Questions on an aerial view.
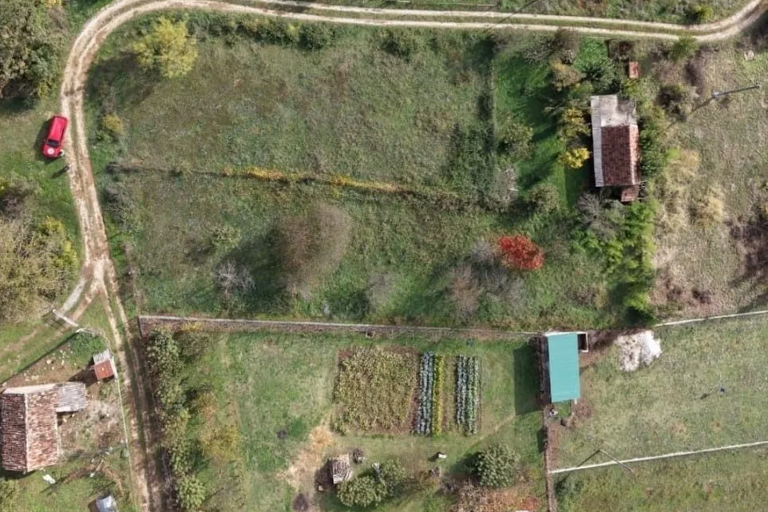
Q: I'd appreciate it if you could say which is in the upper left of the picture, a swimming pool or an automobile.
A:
automobile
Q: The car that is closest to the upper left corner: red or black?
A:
red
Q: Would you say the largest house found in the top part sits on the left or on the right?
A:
right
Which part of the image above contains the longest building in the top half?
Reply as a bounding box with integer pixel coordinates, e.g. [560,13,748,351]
[588,94,643,201]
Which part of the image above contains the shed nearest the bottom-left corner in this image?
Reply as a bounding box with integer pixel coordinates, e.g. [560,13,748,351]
[1,376,92,474]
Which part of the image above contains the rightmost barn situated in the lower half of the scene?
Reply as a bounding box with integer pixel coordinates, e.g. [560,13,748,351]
[541,330,580,408]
